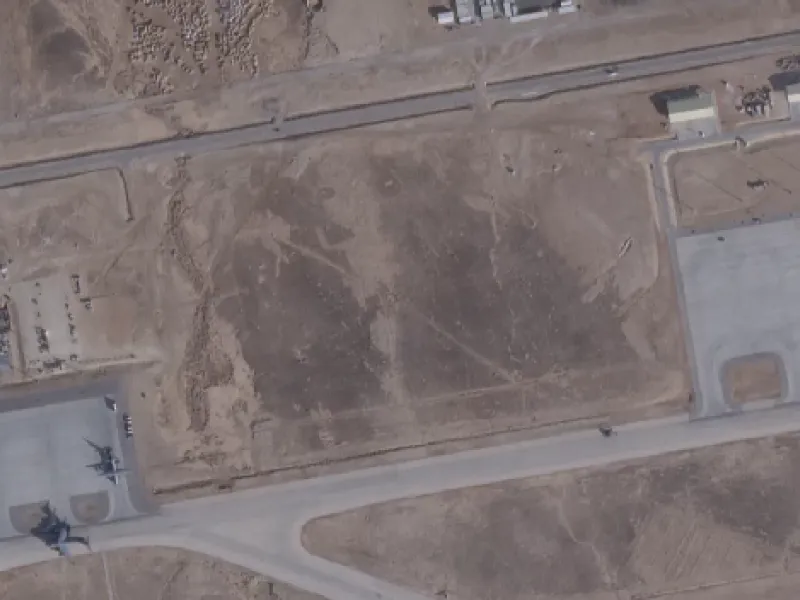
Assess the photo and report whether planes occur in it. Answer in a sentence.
Yes, looking at the shot, I can spot a plane.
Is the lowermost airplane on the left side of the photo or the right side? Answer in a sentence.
The lowermost airplane is on the left side of the image.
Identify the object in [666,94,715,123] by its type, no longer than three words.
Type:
hangar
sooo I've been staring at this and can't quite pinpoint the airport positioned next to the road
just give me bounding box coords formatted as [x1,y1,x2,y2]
[0,165,800,600]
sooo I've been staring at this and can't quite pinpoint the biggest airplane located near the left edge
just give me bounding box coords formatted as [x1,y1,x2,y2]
[36,502,85,560]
